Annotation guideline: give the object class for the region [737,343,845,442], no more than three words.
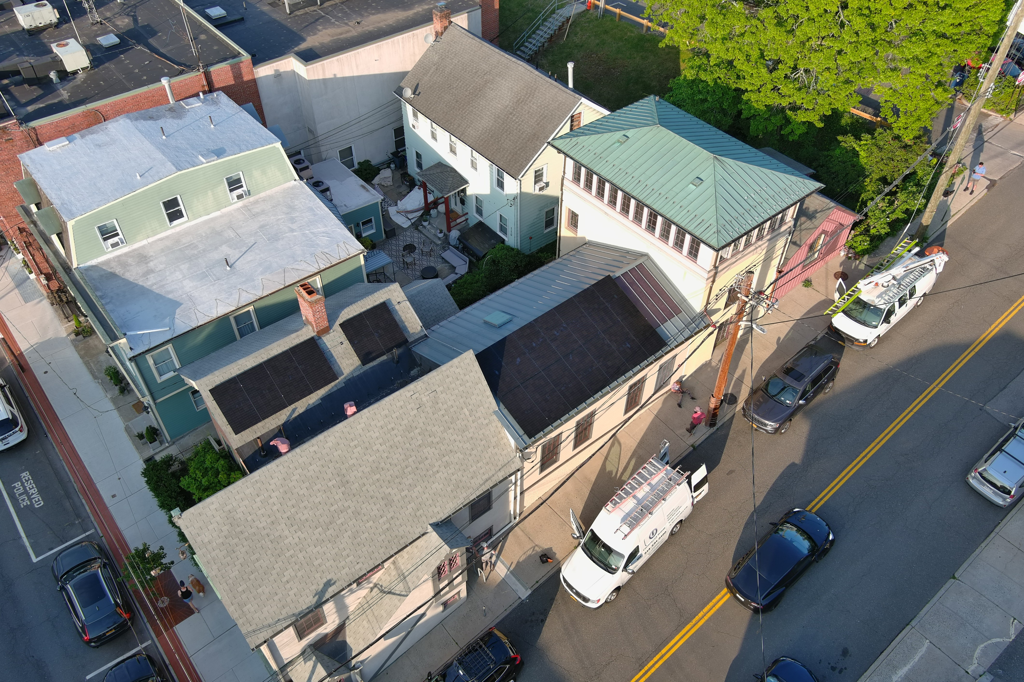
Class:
car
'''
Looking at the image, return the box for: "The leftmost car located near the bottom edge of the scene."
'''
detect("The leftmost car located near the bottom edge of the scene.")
[44,540,135,659]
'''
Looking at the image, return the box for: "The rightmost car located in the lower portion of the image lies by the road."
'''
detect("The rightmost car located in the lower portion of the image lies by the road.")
[968,413,1024,507]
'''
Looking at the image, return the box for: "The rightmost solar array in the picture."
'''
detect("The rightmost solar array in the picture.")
[474,276,670,438]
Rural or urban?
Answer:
urban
